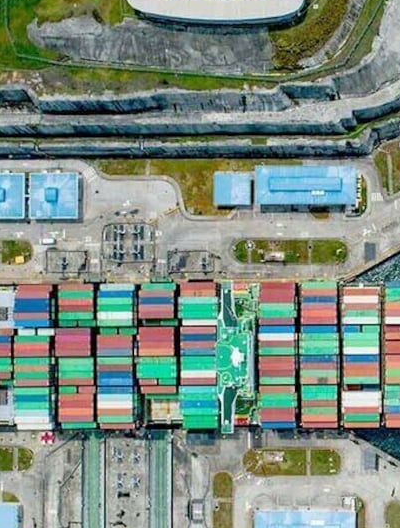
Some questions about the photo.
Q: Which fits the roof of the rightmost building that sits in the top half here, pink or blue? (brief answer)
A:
blue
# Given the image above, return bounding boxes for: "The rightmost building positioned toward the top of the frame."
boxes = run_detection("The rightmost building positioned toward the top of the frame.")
[255,166,357,212]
